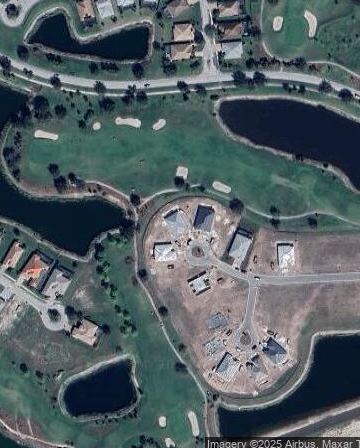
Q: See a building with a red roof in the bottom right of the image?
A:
No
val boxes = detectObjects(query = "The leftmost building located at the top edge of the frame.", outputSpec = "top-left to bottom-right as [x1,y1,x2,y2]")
[77,0,97,21]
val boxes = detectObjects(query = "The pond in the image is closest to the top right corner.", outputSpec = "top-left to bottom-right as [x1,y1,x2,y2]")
[216,96,360,191]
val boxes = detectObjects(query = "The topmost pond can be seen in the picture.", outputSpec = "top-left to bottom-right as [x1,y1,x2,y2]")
[27,11,150,61]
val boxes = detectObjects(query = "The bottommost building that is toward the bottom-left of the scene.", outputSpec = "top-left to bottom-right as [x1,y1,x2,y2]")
[75,318,106,346]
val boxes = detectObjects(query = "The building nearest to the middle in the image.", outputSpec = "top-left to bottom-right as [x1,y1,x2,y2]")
[160,207,186,237]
